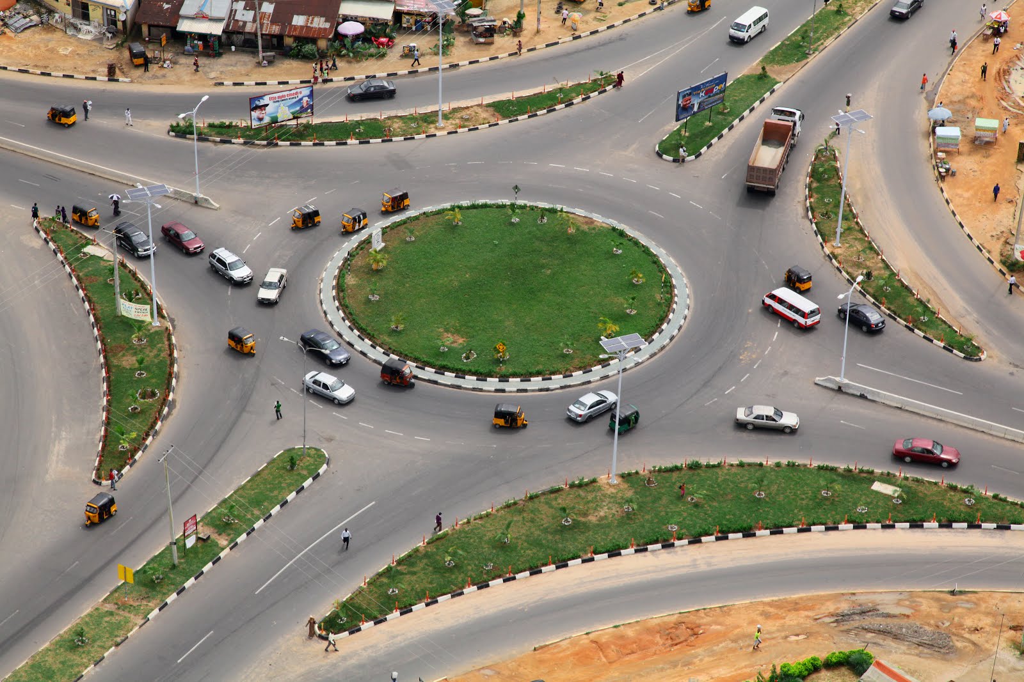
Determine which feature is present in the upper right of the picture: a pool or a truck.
truck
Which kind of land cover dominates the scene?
paved ground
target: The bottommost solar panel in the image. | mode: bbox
[596,337,646,356]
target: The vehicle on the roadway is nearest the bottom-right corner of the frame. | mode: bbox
[892,437,962,467]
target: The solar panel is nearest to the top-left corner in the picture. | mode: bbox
[126,184,170,198]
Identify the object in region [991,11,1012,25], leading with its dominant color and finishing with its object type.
white umbrella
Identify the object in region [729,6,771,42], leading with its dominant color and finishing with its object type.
white vehicle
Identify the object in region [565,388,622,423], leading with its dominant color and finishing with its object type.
gray car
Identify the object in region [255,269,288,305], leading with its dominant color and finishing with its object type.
white car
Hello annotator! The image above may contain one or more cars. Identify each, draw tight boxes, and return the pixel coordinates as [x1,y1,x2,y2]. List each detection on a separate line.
[890,0,925,18]
[834,300,889,334]
[162,222,207,254]
[892,437,962,467]
[344,78,396,101]
[208,245,257,285]
[565,388,622,423]
[301,328,353,367]
[736,404,803,433]
[255,269,288,305]
[113,219,159,257]
[301,370,360,404]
